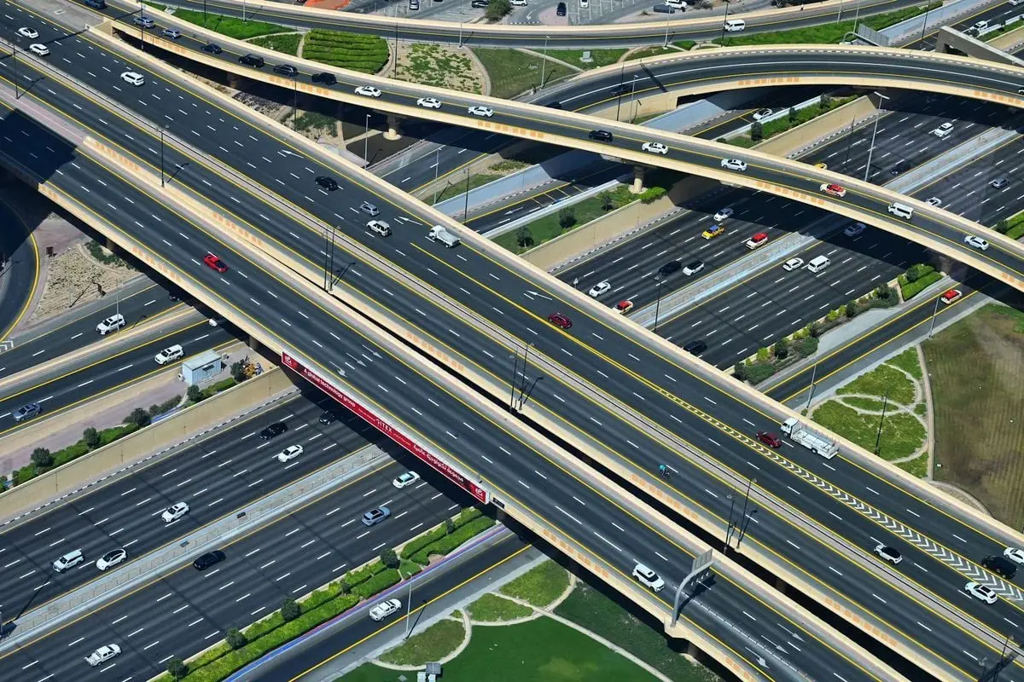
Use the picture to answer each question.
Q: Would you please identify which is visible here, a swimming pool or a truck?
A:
truck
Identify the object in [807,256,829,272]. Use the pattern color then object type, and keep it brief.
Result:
white vehicle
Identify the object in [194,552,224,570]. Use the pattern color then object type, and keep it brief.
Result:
black car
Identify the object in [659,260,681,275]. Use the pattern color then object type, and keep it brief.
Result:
black car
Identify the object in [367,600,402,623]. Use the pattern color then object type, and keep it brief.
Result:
white truck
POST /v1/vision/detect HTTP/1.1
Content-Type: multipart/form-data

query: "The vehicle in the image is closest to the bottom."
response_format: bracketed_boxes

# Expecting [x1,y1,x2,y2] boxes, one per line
[84,645,122,669]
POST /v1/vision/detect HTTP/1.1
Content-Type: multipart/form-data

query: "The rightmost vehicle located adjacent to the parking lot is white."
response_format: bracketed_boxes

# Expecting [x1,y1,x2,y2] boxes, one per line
[725,19,745,31]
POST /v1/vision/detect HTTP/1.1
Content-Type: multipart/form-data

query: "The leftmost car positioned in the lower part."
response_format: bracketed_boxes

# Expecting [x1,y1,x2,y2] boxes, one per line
[12,402,42,421]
